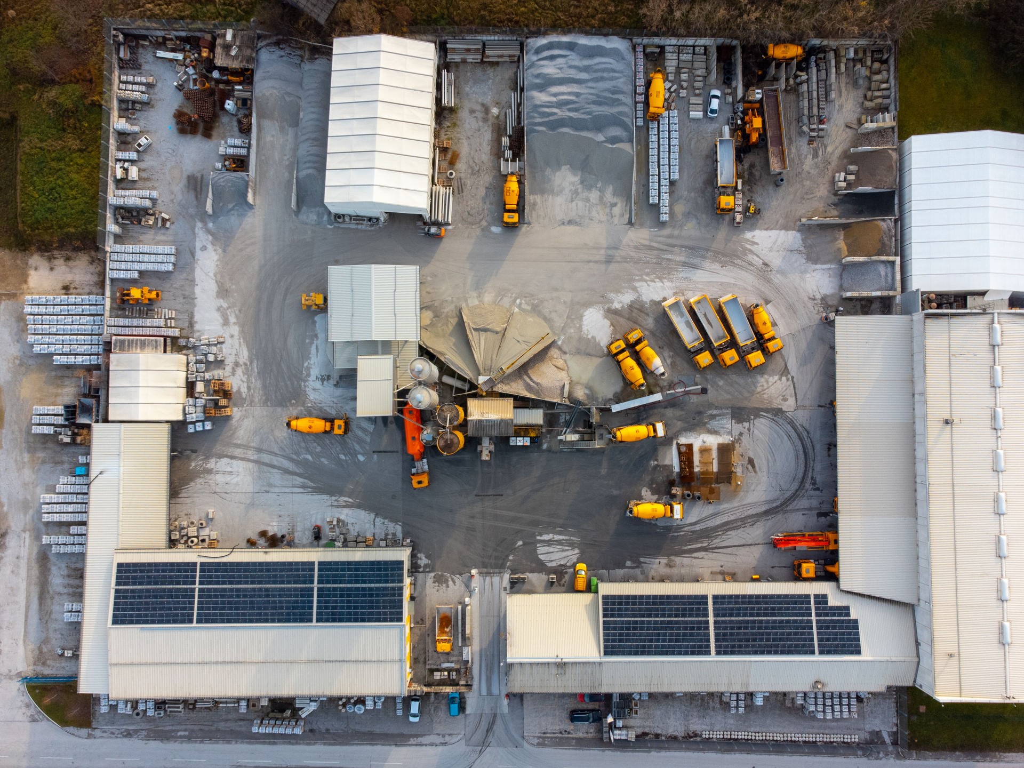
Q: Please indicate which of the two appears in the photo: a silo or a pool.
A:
silo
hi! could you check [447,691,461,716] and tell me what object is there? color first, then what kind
blue car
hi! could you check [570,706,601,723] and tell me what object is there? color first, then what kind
black car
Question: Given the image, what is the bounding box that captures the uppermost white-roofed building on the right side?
[891,130,1024,300]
